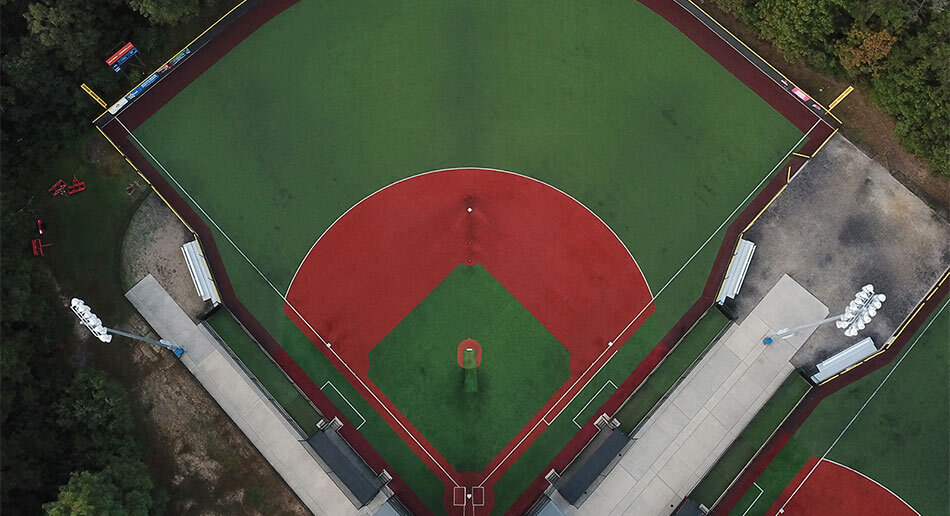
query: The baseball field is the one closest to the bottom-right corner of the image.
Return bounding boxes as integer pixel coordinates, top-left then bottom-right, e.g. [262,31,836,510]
[707,273,950,516]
